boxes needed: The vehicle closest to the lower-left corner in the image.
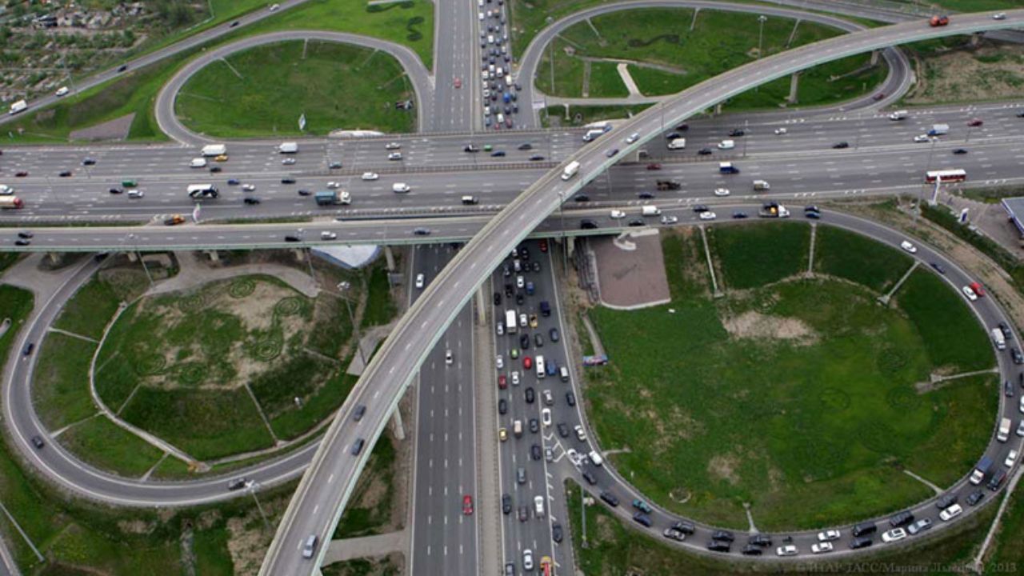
[31,435,45,448]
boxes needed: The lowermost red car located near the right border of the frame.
[968,280,985,295]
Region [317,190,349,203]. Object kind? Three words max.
vehicle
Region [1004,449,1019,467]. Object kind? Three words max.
car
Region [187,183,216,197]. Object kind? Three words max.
vehicle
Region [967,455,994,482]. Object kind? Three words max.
truck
